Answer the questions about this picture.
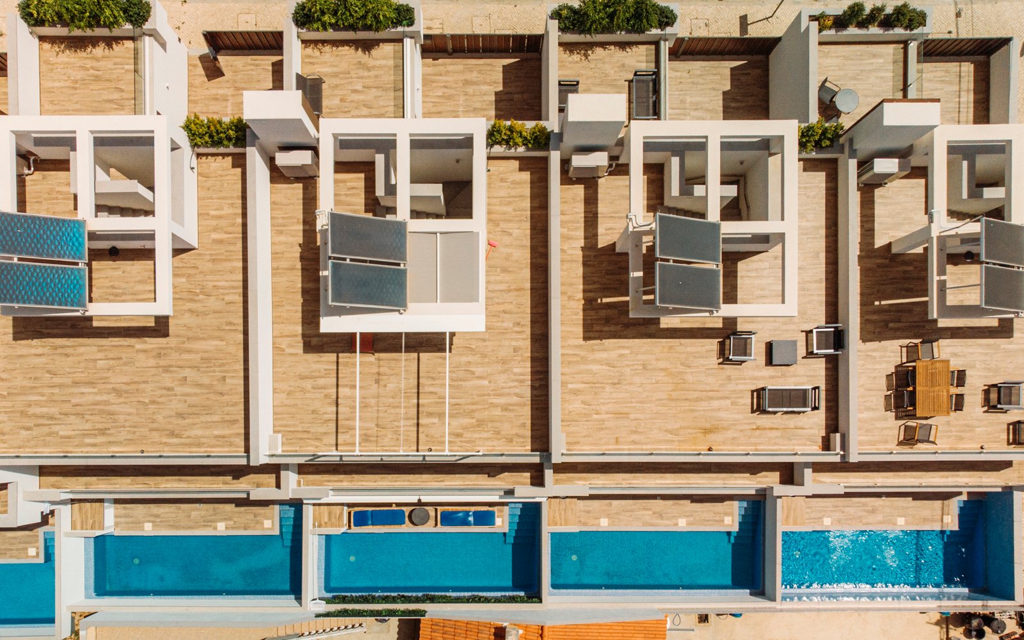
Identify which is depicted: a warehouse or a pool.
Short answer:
pool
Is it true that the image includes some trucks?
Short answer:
No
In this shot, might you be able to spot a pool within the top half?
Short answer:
No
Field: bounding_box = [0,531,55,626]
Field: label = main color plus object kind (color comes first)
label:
blue swimming pool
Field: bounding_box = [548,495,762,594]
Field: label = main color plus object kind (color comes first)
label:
blue swimming pool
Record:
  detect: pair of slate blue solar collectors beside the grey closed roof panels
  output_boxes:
[313,209,408,315]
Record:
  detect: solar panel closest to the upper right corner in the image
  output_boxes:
[918,208,1024,319]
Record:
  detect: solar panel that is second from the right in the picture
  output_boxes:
[621,209,721,316]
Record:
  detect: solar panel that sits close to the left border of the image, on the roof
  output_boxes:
[0,212,88,315]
